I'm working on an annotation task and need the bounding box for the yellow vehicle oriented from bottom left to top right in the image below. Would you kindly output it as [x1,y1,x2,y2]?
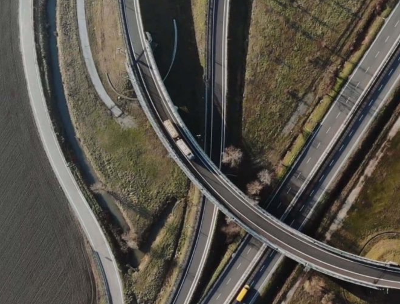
[237,286,250,303]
